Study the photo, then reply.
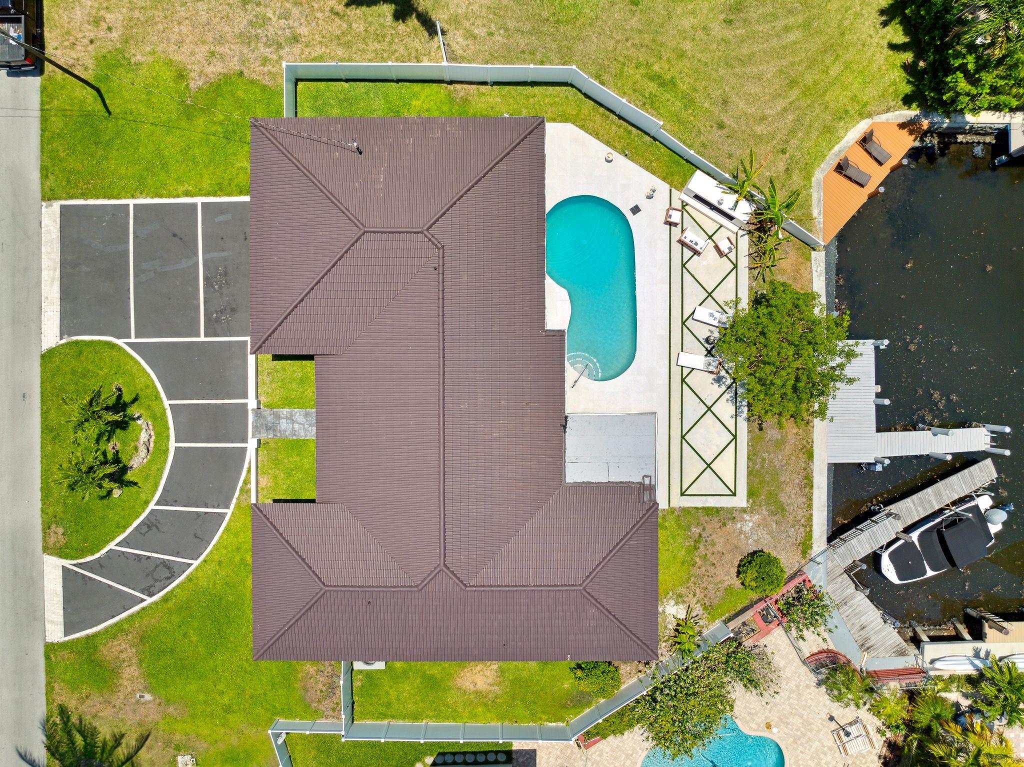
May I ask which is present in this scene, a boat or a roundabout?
boat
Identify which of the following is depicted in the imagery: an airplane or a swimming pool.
swimming pool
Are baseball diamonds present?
No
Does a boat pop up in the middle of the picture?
No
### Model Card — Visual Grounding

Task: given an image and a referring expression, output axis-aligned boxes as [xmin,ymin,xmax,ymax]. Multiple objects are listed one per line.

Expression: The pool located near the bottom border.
[637,709,791,767]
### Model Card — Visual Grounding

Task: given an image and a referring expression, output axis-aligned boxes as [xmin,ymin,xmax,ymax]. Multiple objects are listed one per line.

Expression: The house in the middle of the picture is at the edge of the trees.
[247,115,660,663]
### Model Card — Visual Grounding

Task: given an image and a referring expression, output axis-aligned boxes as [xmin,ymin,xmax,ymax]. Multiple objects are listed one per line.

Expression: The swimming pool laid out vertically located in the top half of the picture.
[545,196,637,388]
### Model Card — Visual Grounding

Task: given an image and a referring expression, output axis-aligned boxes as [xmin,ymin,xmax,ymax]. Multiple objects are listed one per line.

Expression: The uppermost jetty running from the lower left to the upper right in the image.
[823,122,928,246]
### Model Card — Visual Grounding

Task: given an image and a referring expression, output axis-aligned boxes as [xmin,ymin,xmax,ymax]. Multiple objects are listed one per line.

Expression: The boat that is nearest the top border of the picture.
[875,498,1003,583]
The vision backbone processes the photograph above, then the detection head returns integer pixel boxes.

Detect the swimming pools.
[545,196,637,388]
[637,709,791,767]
